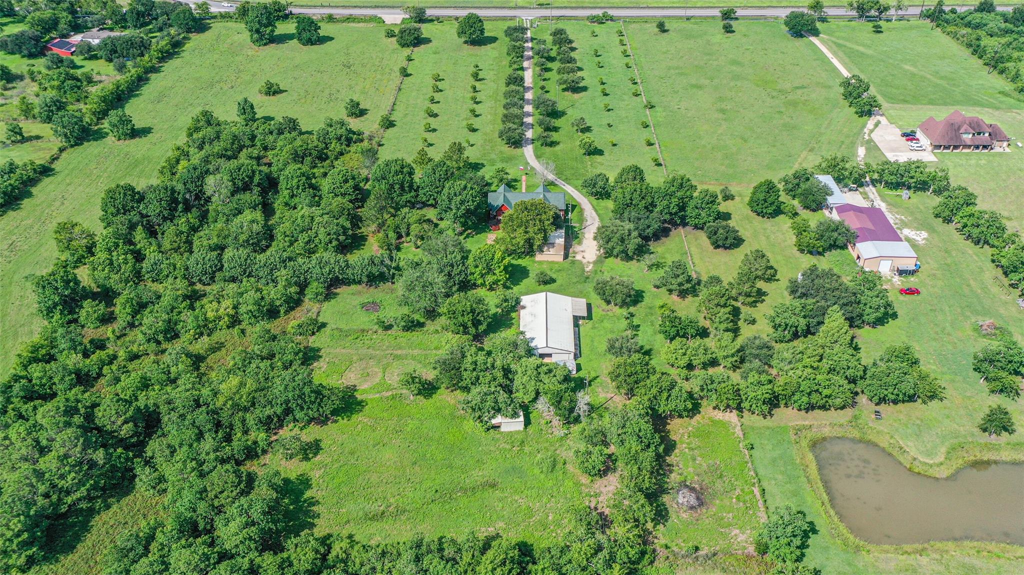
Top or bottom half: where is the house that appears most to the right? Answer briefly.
top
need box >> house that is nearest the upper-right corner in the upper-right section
[917,107,1013,152]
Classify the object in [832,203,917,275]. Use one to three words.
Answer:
building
